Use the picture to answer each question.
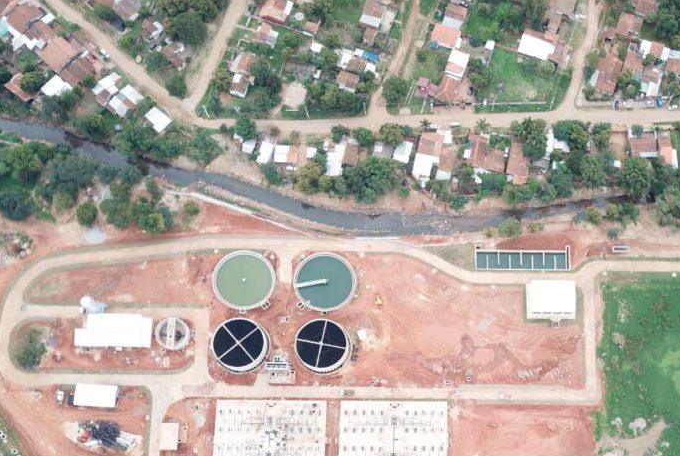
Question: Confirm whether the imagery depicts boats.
No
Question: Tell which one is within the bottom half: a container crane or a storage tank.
storage tank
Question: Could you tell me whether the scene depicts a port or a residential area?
residential area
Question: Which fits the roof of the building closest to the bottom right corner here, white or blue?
white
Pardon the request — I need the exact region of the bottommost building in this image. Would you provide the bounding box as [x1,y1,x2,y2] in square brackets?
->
[159,423,187,450]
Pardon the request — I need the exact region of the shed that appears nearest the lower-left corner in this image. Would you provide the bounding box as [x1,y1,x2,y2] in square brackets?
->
[67,383,123,408]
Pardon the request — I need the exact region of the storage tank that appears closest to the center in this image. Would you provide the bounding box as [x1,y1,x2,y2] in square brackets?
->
[292,252,358,316]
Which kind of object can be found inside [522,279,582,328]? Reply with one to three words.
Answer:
building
